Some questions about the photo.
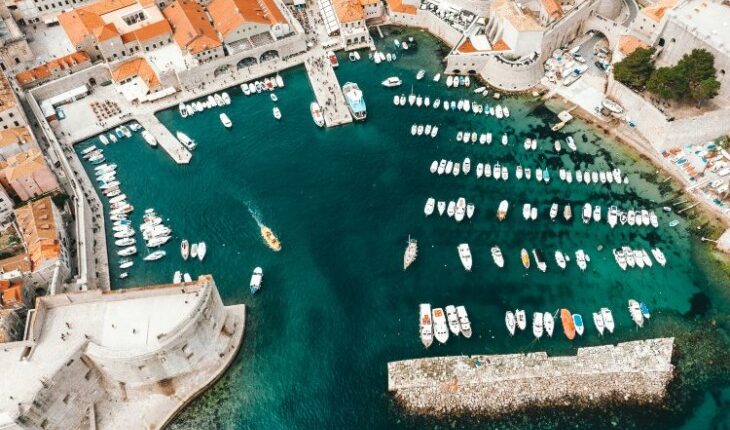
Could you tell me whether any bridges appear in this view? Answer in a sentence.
Yes, the frame does contain a bridge.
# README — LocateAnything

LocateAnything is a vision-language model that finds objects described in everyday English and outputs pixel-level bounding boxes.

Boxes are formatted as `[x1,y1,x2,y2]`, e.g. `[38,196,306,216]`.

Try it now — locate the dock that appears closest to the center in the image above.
[304,56,353,129]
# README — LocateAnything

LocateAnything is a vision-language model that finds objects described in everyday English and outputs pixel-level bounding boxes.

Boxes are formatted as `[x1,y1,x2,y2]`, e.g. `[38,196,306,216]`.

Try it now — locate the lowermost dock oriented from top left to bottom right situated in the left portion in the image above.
[141,113,192,165]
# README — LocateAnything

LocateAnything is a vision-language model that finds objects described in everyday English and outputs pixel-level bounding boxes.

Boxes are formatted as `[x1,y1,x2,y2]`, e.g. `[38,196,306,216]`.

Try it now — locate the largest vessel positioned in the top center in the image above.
[344,77,368,123]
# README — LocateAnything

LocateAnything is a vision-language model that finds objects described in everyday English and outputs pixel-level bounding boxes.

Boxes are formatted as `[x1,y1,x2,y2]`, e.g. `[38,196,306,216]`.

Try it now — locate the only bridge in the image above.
[579,11,623,53]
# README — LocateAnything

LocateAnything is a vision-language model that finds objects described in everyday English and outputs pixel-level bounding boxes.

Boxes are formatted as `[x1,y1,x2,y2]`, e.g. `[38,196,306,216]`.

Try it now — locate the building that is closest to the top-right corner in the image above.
[635,0,681,43]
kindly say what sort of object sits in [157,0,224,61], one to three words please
house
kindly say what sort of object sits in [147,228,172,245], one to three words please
boat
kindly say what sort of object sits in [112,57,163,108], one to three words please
building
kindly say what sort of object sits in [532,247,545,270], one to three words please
boat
